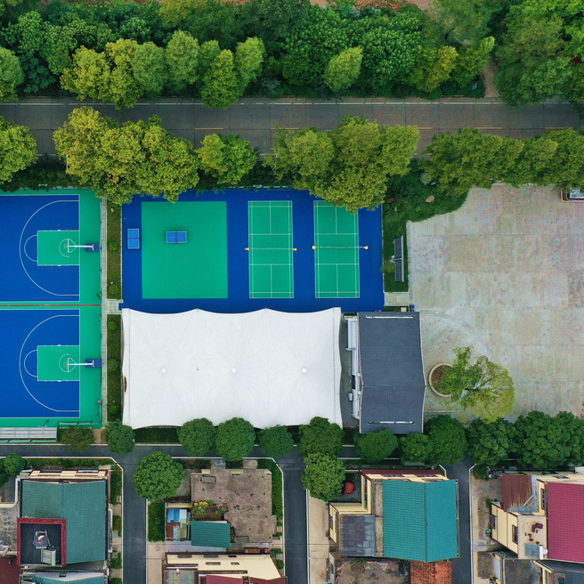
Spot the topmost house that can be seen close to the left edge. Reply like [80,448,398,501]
[0,469,112,566]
